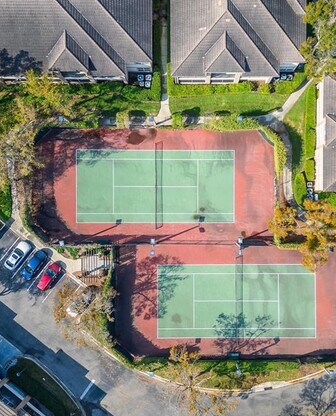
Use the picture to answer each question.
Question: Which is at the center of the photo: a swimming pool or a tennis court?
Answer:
tennis court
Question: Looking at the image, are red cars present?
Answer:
Yes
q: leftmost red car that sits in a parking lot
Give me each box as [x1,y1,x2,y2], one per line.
[36,261,63,291]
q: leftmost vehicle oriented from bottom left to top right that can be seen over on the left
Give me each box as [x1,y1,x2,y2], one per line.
[4,239,32,271]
